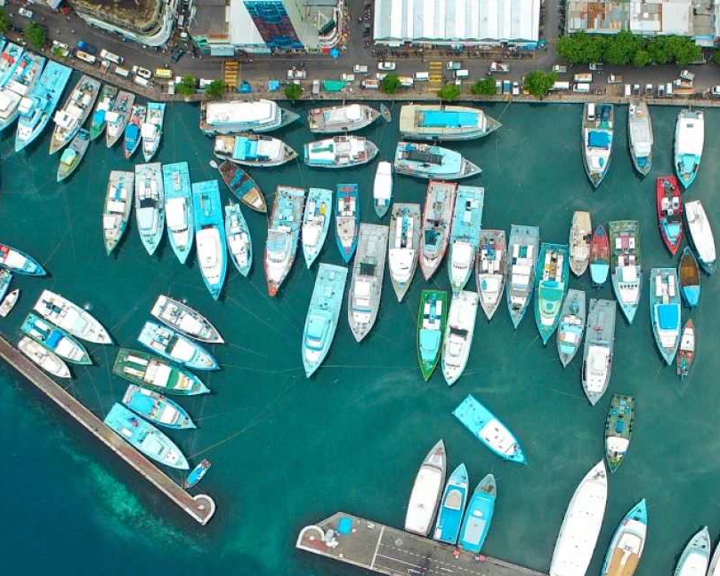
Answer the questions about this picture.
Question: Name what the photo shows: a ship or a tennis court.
ship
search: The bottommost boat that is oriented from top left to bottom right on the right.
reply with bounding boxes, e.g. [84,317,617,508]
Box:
[453,395,526,465]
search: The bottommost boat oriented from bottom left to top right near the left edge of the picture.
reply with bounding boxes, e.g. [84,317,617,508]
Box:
[0,290,19,318]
